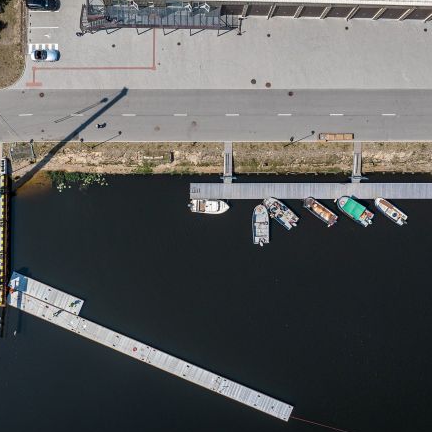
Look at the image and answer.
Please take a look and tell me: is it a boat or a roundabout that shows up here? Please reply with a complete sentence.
The one in the frame is a boat.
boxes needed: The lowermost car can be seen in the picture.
[32,48,59,62]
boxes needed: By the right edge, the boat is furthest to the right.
[377,199,411,227]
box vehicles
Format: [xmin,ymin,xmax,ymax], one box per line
[32,48,59,62]
[27,0,61,12]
